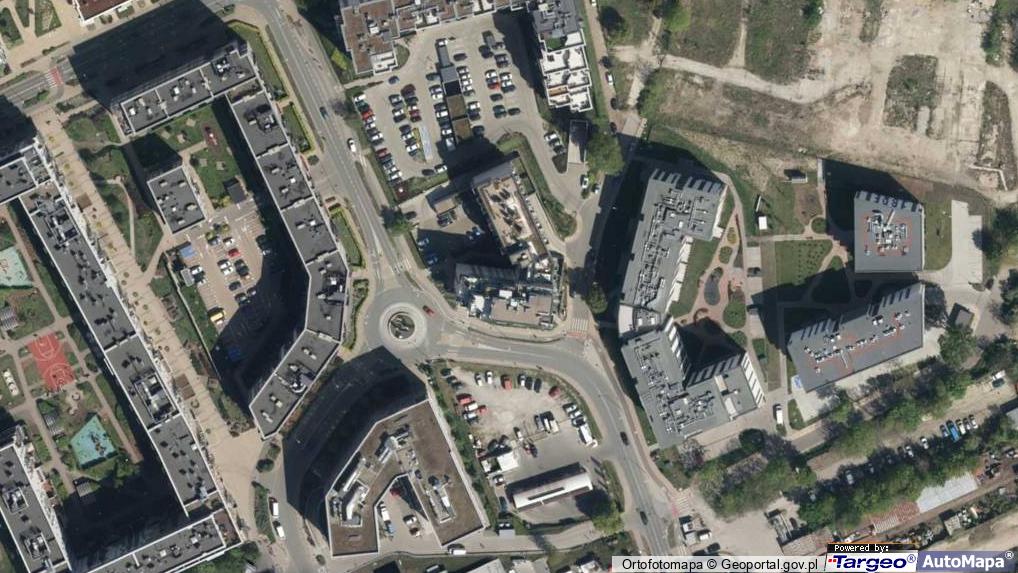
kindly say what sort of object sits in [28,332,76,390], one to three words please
basketball court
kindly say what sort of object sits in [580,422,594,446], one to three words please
vehicle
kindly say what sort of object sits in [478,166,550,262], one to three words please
building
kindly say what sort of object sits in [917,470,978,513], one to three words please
shed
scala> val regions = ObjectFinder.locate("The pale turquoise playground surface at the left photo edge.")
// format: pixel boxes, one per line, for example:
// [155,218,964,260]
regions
[0,246,31,288]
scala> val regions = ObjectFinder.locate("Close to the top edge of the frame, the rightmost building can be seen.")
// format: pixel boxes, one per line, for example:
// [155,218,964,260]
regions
[531,0,594,112]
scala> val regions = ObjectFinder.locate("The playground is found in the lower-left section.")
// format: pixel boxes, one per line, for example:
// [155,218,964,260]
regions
[70,416,115,464]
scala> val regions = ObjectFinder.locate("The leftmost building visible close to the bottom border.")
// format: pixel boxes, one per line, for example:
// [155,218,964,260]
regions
[0,431,83,573]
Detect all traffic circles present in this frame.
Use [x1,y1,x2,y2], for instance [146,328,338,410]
[378,302,426,349]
